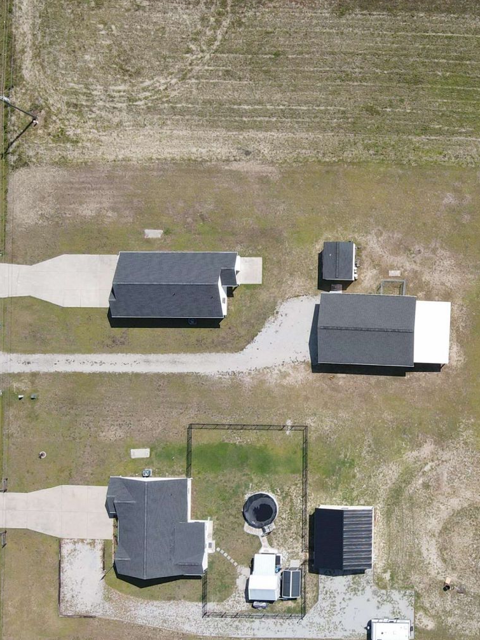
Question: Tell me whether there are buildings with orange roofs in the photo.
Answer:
No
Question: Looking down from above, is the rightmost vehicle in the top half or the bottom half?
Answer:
bottom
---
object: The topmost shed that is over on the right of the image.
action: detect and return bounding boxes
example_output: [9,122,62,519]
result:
[322,242,355,280]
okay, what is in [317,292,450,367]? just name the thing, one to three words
building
